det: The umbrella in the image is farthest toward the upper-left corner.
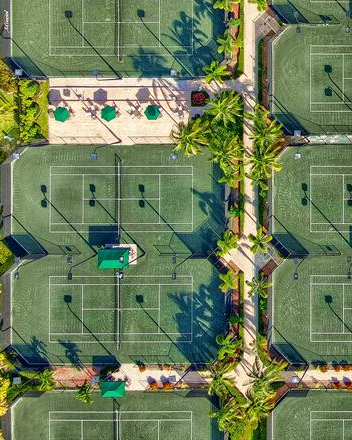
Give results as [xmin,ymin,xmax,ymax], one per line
[53,106,71,121]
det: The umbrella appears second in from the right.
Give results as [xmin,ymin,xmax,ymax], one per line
[100,106,117,121]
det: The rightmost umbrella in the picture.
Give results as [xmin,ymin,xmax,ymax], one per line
[144,105,161,120]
